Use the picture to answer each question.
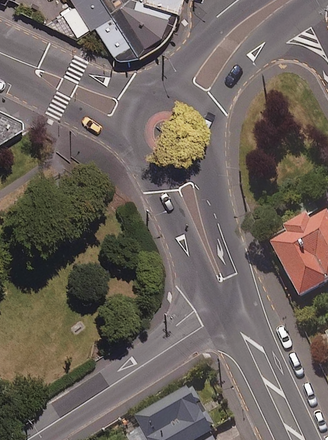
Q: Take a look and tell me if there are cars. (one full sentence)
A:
Yes, you can see a car in this photo.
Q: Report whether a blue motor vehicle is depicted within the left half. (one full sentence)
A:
No, no blue motor vehicle can be made out within the left half.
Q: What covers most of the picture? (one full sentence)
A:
For the most part, this view shows paved ground.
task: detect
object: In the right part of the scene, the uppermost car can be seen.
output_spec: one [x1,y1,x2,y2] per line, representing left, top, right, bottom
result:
[224,64,242,88]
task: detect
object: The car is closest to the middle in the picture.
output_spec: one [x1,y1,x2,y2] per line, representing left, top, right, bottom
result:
[160,192,174,214]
